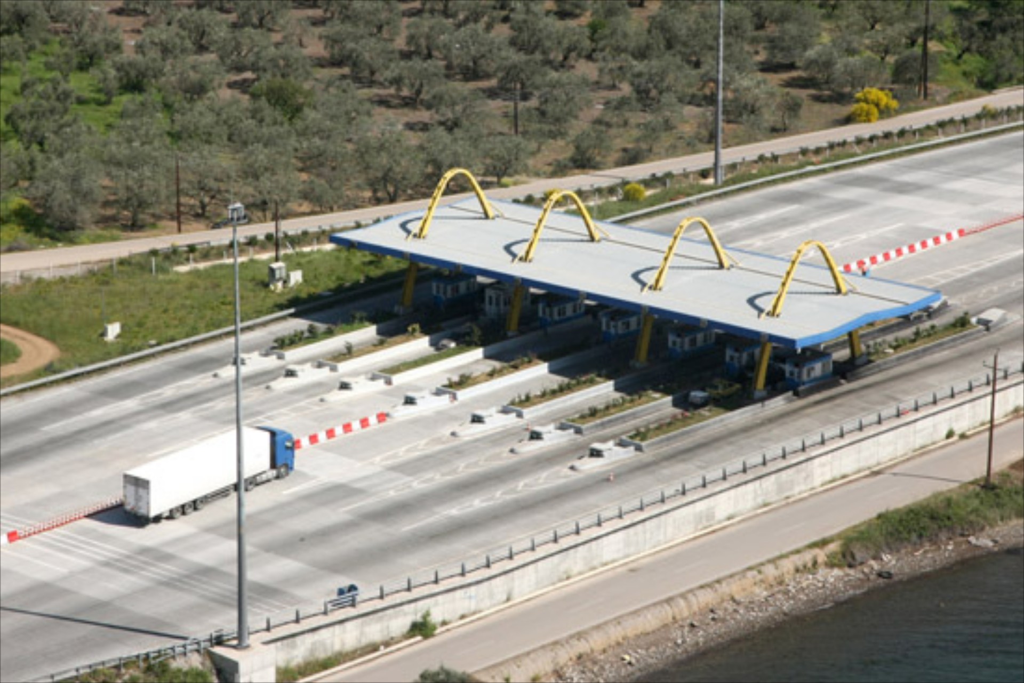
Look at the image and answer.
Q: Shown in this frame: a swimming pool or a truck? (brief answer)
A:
truck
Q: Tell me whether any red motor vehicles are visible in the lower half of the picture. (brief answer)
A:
No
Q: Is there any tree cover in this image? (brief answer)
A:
Yes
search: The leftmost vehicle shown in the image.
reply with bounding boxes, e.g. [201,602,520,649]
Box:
[122,423,296,526]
